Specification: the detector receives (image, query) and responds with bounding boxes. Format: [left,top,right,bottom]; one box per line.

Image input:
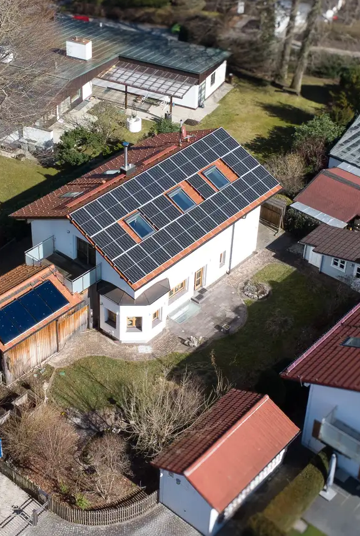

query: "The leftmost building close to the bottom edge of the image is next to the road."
[148,387,301,536]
